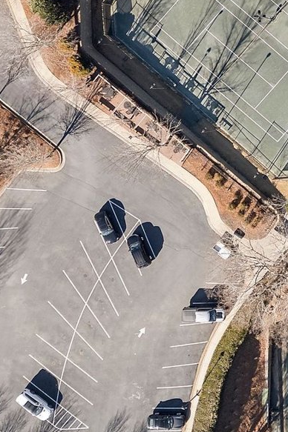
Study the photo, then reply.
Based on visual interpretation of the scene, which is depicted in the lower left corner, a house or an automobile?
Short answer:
automobile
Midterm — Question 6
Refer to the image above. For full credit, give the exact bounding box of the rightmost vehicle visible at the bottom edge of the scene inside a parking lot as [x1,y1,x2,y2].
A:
[147,412,186,432]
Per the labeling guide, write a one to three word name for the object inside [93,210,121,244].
car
